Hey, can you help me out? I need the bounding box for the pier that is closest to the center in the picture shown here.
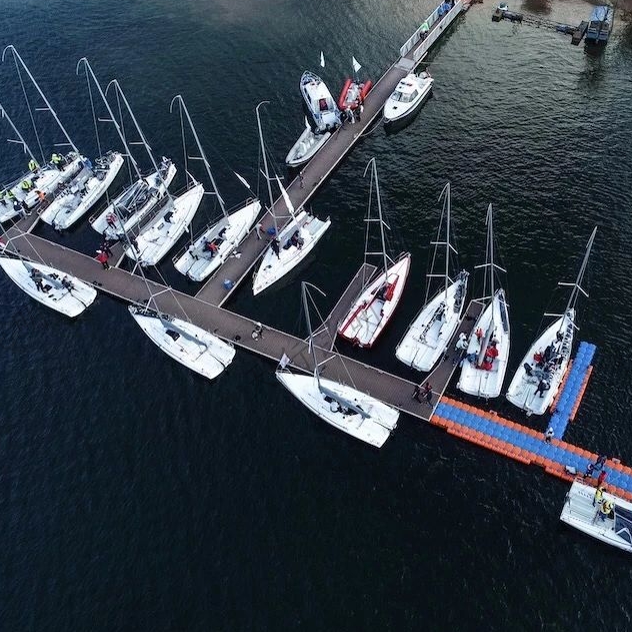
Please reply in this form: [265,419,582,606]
[304,262,379,350]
